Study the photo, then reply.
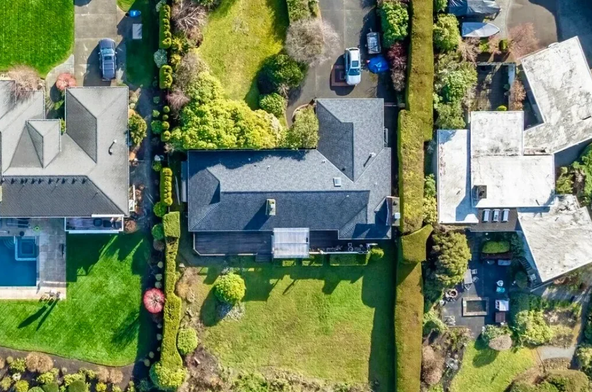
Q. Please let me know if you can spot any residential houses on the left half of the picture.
Yes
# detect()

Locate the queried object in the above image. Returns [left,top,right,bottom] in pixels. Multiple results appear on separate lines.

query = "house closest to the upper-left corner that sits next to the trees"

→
[0,79,130,235]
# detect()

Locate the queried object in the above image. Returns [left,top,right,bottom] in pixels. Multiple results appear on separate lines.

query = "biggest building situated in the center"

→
[179,97,399,267]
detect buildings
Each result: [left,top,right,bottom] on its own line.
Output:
[179,97,399,267]
[0,79,130,235]
[432,36,592,282]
